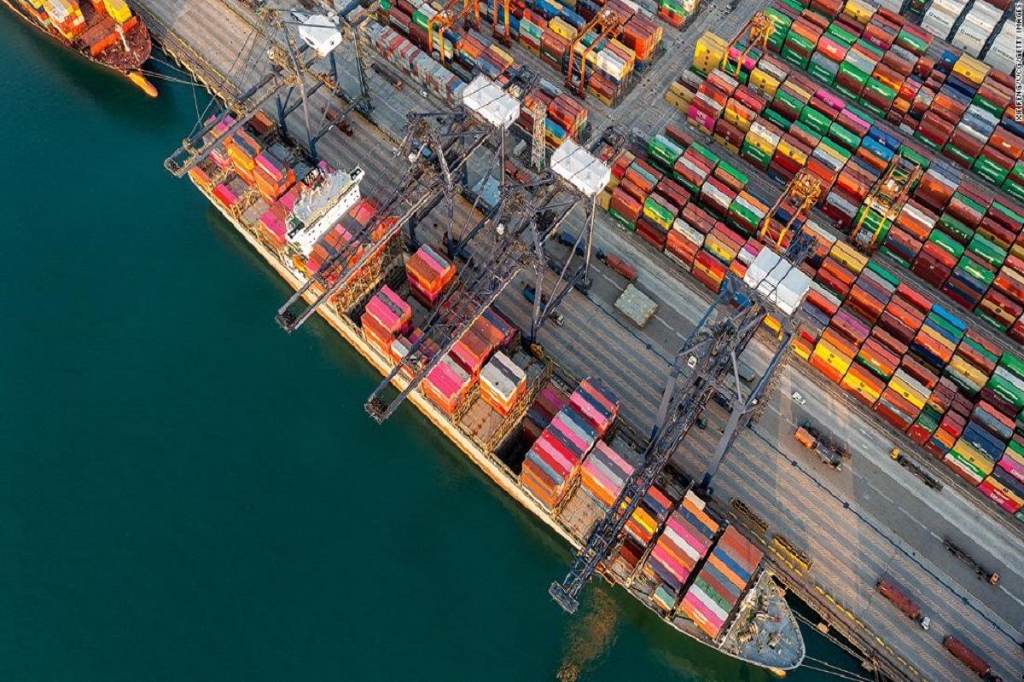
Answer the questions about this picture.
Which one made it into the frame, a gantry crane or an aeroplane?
gantry crane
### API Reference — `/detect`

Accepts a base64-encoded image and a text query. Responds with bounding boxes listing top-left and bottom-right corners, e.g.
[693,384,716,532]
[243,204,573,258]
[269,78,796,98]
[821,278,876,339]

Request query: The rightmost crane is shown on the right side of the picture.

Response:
[849,155,924,251]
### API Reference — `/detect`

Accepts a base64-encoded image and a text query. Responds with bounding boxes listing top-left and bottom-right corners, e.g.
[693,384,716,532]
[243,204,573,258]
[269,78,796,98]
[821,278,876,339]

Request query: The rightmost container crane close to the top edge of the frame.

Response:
[717,15,771,85]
